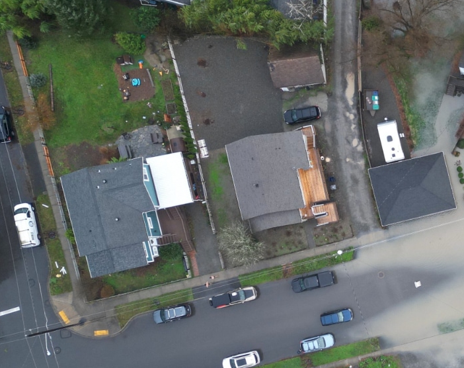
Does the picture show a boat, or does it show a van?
van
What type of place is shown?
residential area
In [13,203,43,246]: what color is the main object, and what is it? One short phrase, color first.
white van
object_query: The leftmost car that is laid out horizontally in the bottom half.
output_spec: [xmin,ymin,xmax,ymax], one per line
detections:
[153,302,194,324]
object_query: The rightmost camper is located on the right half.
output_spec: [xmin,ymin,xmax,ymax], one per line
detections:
[378,116,404,162]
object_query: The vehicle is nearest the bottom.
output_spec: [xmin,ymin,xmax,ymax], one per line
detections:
[221,348,264,368]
